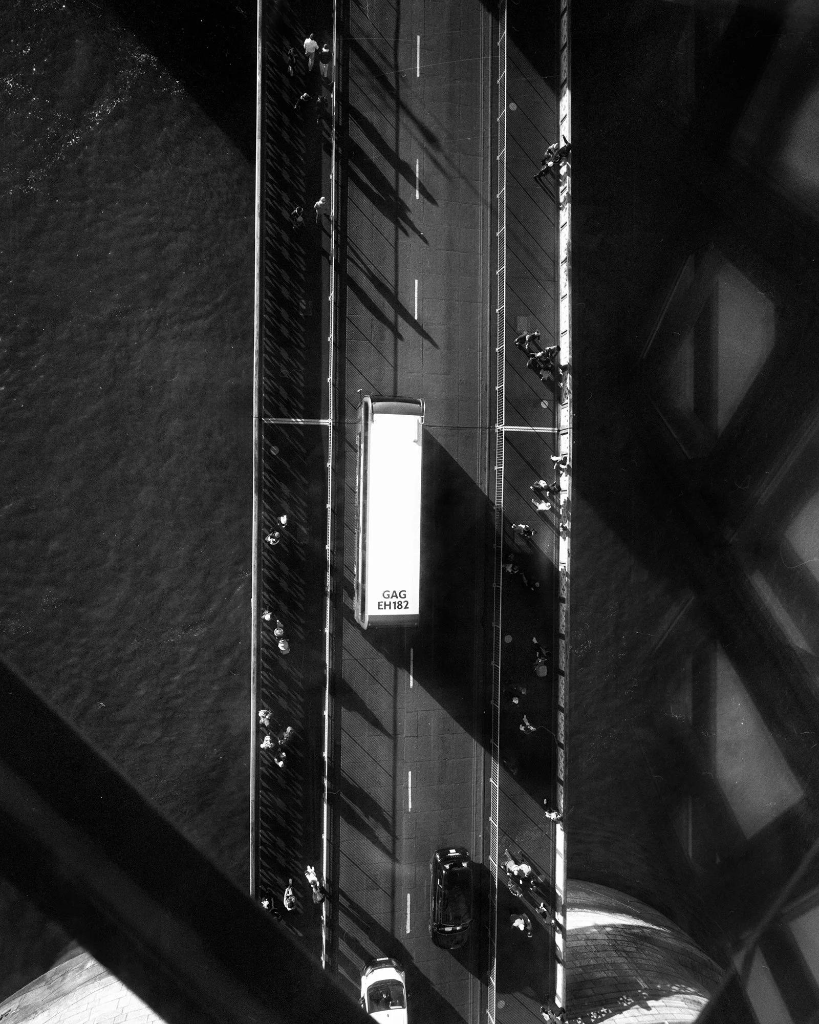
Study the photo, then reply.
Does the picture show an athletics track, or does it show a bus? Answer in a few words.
bus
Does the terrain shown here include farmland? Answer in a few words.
No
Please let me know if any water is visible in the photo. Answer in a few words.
Yes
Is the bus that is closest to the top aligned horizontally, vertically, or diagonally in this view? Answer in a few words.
vertically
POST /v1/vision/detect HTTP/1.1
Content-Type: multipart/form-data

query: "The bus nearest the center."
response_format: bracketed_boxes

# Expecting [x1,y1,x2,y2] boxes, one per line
[353,392,429,631]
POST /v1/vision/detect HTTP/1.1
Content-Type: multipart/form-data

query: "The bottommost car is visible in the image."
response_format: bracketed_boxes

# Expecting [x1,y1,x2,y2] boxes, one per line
[359,955,411,1024]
